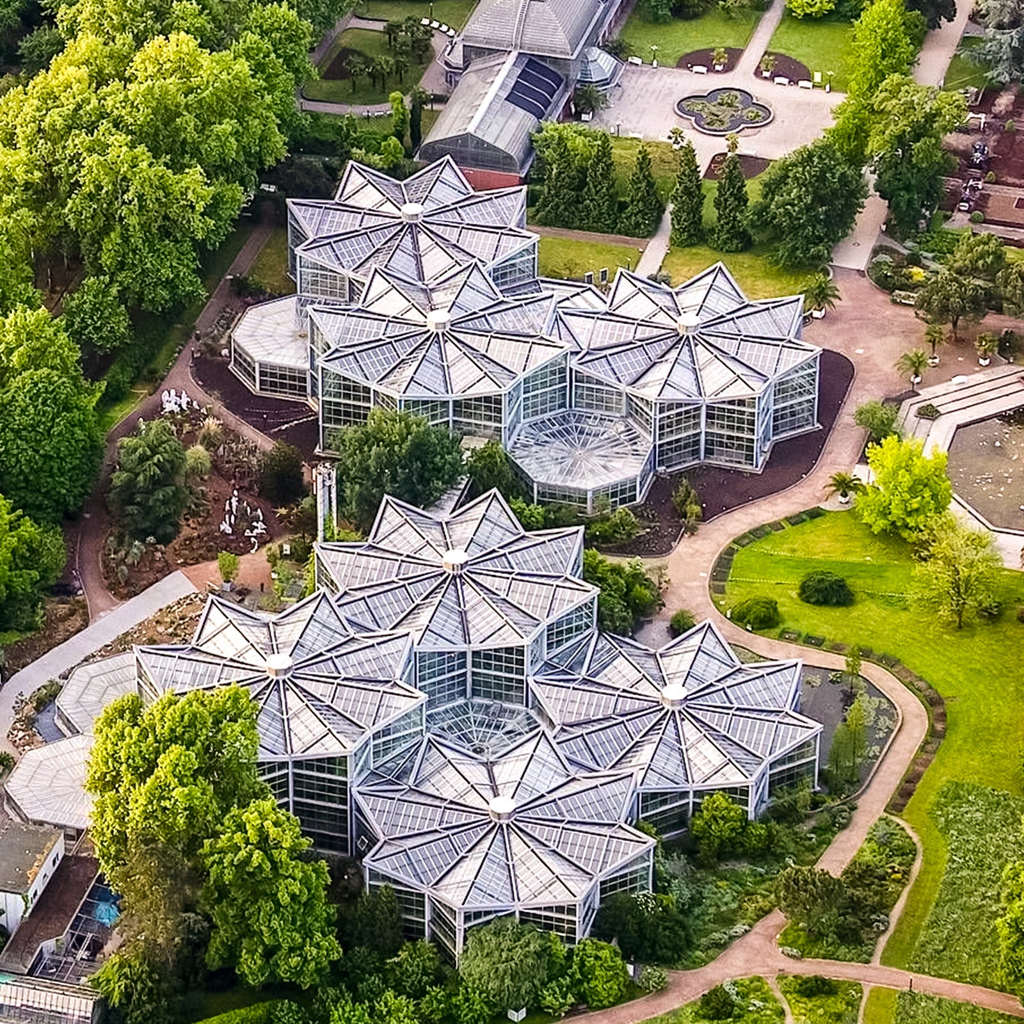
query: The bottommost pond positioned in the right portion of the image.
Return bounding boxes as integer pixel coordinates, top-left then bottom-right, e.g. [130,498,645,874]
[780,662,896,815]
